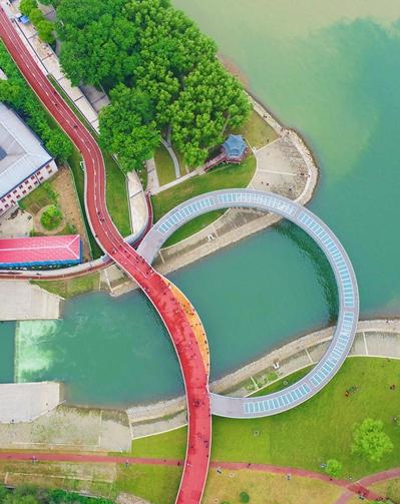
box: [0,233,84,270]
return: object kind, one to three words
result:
building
